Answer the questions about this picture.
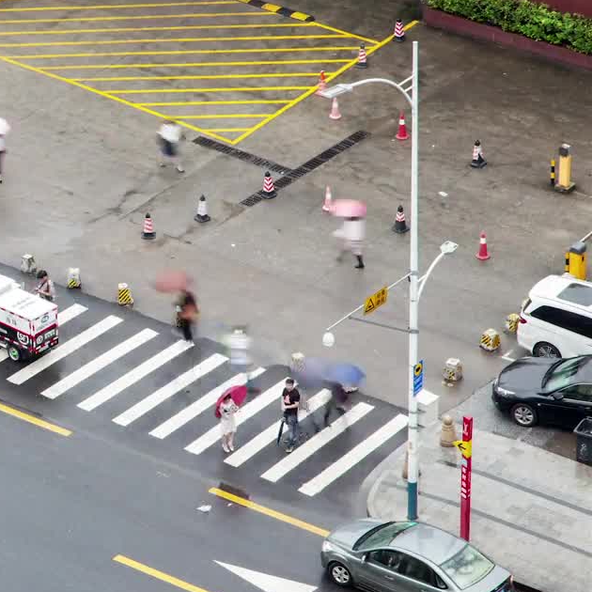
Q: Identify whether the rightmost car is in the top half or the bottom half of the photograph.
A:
bottom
